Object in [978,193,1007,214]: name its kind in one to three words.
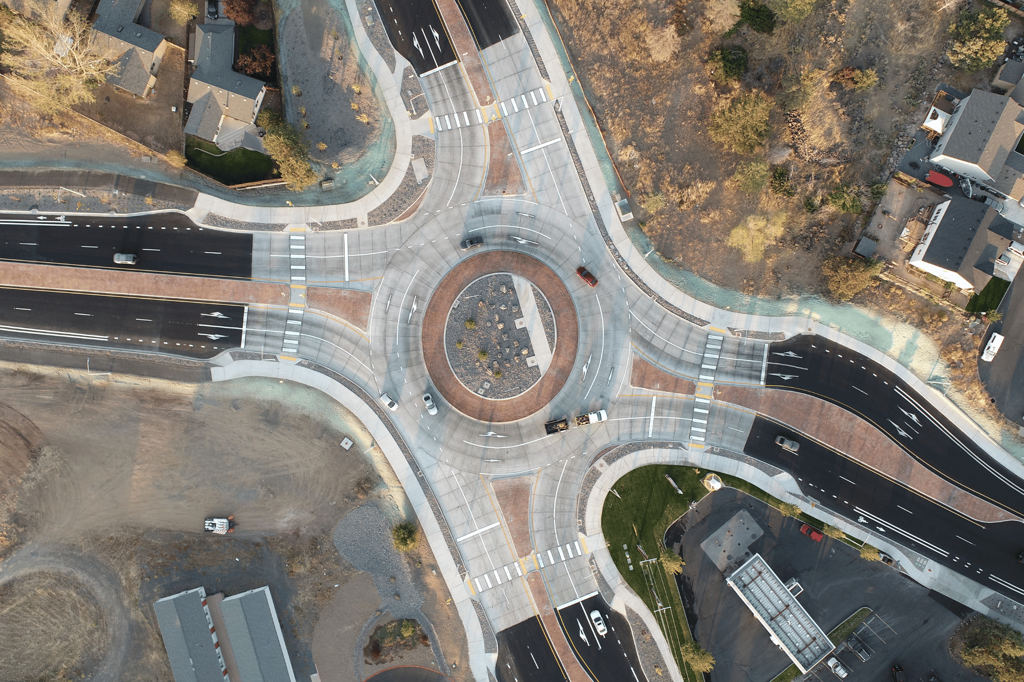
truck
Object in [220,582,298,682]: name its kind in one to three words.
building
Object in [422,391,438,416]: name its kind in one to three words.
car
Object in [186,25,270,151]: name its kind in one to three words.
house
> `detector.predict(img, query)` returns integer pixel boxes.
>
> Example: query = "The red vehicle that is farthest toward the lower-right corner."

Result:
[799,523,825,543]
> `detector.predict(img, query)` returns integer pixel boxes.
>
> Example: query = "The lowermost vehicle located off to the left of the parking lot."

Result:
[590,609,606,637]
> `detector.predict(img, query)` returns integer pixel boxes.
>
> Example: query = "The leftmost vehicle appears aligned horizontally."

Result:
[113,252,139,264]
